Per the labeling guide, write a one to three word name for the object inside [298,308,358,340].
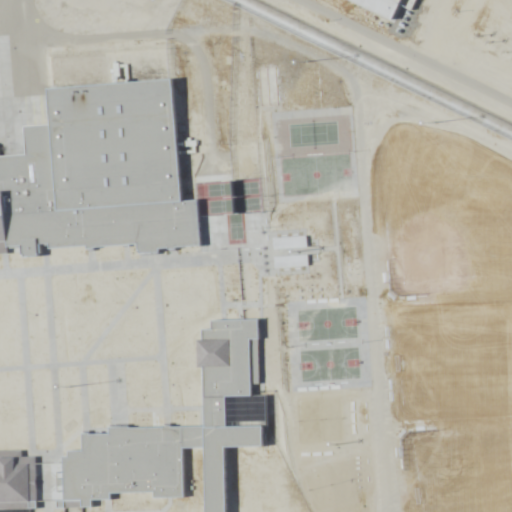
basketball court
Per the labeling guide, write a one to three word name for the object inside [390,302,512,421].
sports field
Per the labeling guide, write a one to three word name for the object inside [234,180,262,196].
sports court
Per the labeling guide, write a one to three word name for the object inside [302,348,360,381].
basketball court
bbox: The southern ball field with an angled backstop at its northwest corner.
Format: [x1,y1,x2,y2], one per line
[404,419,512,512]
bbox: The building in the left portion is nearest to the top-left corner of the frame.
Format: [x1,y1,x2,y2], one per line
[0,80,202,256]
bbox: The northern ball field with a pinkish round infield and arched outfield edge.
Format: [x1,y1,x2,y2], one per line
[370,125,512,306]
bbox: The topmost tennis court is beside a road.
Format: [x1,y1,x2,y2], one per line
[278,114,352,160]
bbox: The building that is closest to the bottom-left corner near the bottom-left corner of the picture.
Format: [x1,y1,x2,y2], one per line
[0,450,38,508]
